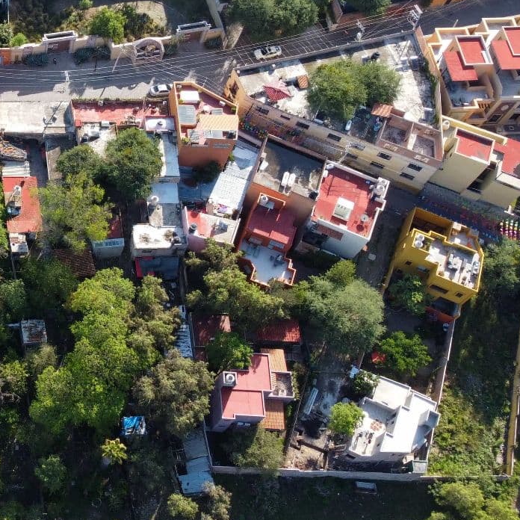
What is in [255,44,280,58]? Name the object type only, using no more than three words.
car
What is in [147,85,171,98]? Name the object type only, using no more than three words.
vehicle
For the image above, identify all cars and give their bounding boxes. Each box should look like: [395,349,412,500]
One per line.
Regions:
[255,44,280,58]
[147,85,171,98]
